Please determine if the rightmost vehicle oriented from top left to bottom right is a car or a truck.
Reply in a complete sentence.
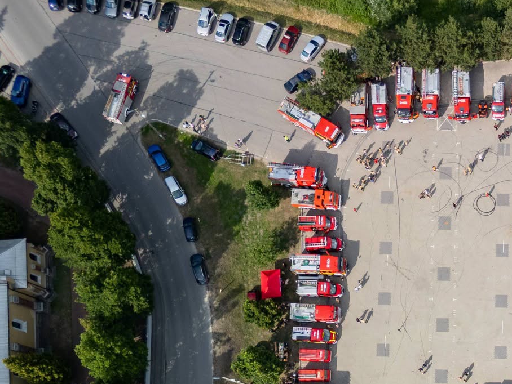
The rightmost vehicle oriented from top left to bottom right in the image is a truck.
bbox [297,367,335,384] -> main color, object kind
red vehicle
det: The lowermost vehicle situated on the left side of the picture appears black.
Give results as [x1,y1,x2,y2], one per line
[189,253,209,286]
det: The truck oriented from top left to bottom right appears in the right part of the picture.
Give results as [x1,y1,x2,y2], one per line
[273,91,347,150]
